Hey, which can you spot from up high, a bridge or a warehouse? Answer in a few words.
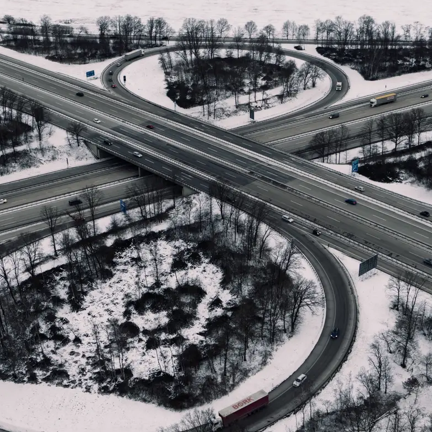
bridge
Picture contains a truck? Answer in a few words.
Yes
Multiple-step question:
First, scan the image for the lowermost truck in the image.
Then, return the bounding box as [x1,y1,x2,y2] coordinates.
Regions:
[213,391,269,430]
